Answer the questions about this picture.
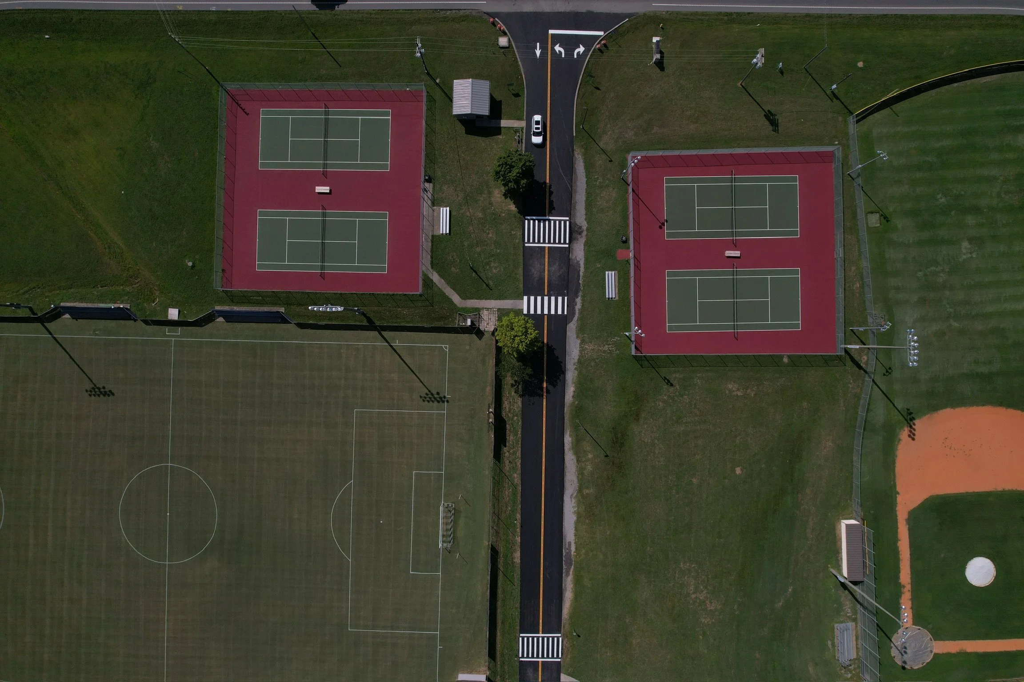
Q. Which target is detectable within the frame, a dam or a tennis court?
tennis court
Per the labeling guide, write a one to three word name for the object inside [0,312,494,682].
soccer field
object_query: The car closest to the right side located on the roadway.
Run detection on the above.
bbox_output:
[531,115,544,144]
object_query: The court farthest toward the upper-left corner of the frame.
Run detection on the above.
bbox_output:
[221,90,426,294]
